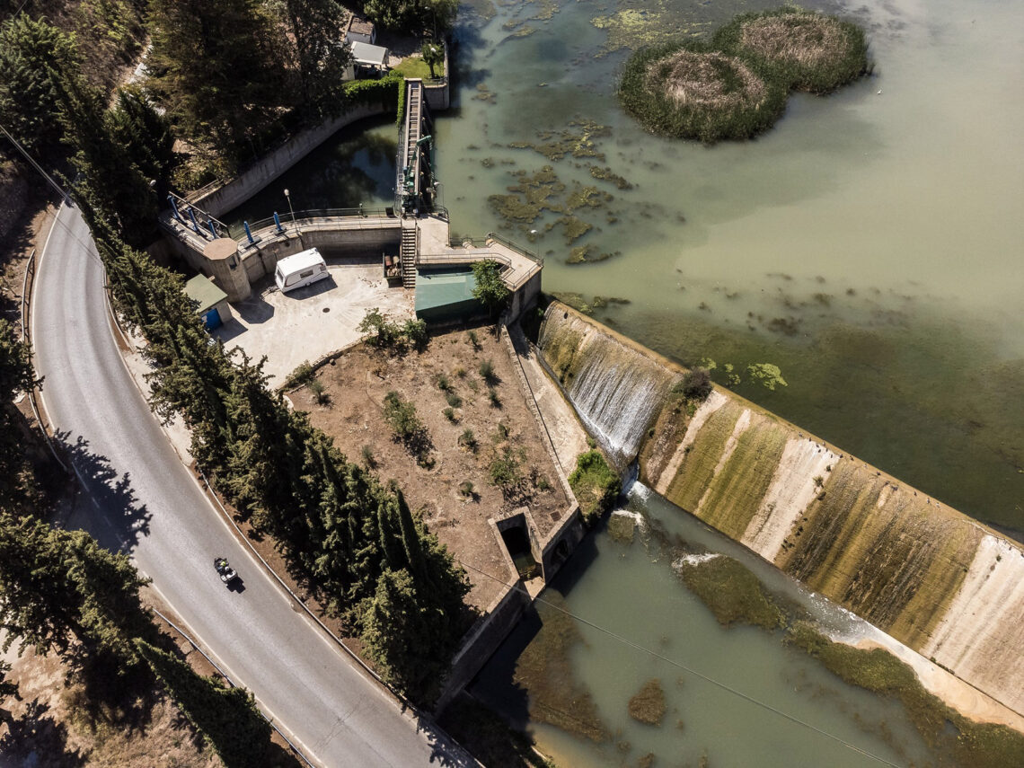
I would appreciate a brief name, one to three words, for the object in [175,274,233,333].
shed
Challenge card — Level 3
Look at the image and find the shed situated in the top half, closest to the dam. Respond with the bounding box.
[416,266,486,329]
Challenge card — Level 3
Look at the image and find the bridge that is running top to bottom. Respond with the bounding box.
[399,74,429,217]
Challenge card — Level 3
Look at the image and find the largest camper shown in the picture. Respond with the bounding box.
[262,245,328,295]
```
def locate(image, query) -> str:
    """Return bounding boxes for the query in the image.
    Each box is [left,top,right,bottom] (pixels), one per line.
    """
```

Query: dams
[526,300,1024,708]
